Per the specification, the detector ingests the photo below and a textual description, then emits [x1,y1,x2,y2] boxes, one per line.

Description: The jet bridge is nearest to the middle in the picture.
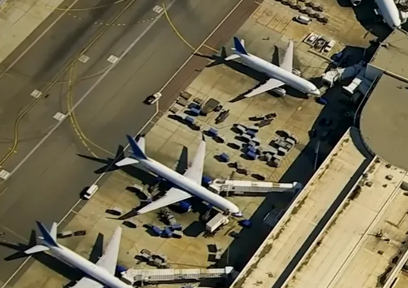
[207,178,302,201]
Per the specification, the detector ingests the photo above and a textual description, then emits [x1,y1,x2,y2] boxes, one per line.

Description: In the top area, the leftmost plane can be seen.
[230,39,321,98]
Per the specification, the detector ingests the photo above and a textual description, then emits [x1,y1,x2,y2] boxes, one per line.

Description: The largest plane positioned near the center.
[116,130,243,216]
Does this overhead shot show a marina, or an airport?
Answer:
airport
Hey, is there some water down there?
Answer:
No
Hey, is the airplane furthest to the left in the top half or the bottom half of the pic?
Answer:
bottom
